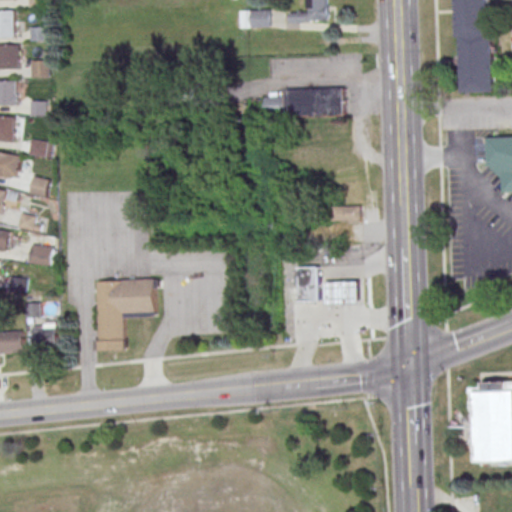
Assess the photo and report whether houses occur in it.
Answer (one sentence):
Yes, a house is visible in the scene.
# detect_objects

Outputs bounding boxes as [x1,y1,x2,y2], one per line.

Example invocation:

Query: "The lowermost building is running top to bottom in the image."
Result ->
[472,382,512,464]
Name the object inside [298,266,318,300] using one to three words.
building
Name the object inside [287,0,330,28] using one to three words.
house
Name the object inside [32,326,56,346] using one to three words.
house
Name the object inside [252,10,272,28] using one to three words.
building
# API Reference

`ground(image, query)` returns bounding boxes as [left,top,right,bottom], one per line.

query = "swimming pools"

[44,302,58,316]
